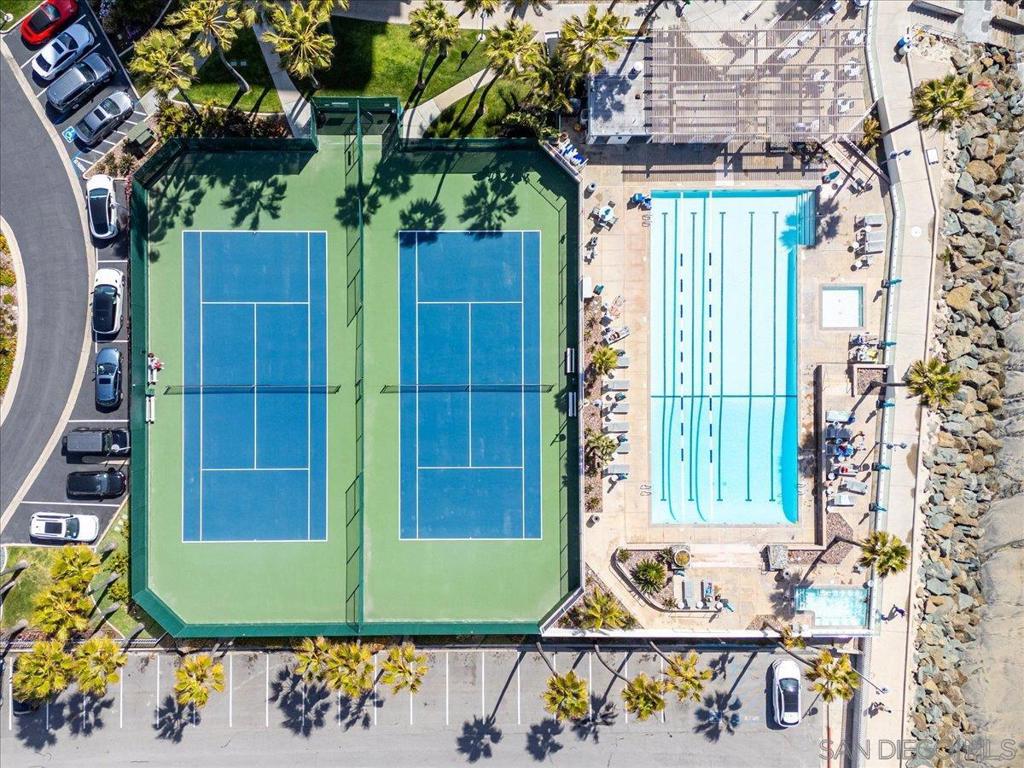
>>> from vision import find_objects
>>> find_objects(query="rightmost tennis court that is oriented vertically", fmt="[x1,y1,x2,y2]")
[363,111,577,624]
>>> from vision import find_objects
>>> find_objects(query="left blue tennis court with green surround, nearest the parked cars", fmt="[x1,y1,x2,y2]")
[149,111,363,625]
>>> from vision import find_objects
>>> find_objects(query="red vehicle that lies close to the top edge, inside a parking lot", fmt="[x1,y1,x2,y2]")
[18,0,81,47]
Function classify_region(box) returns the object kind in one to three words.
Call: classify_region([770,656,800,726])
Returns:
car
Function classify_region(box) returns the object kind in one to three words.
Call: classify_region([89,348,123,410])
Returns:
car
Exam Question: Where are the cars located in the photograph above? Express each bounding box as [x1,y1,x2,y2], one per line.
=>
[89,268,126,334]
[72,91,136,146]
[770,656,800,726]
[46,54,114,109]
[29,26,96,80]
[89,348,123,410]
[27,512,102,543]
[81,175,120,242]
[59,428,129,458]
[18,0,81,47]
[64,471,129,500]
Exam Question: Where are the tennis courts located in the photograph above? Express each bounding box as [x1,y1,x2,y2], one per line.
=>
[363,111,577,624]
[149,111,363,625]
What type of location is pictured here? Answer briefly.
sports ground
